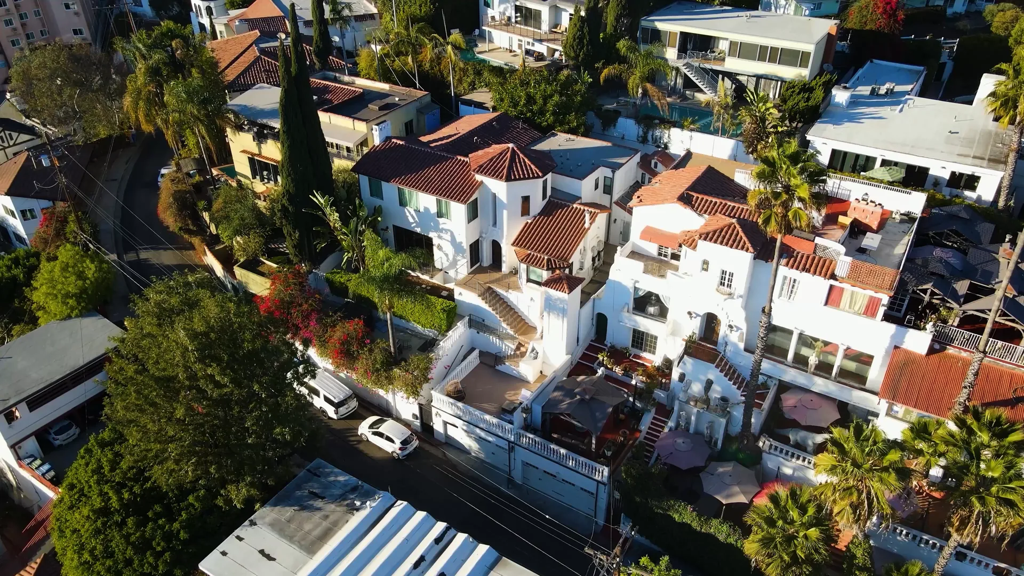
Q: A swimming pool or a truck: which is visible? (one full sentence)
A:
The one in the frame is a swimming pool.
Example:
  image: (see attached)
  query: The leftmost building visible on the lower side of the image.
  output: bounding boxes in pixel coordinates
[0,310,131,474]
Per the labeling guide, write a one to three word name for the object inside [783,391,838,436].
umbrella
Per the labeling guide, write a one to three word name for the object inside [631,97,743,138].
swimming pool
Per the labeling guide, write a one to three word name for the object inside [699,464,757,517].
umbrella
